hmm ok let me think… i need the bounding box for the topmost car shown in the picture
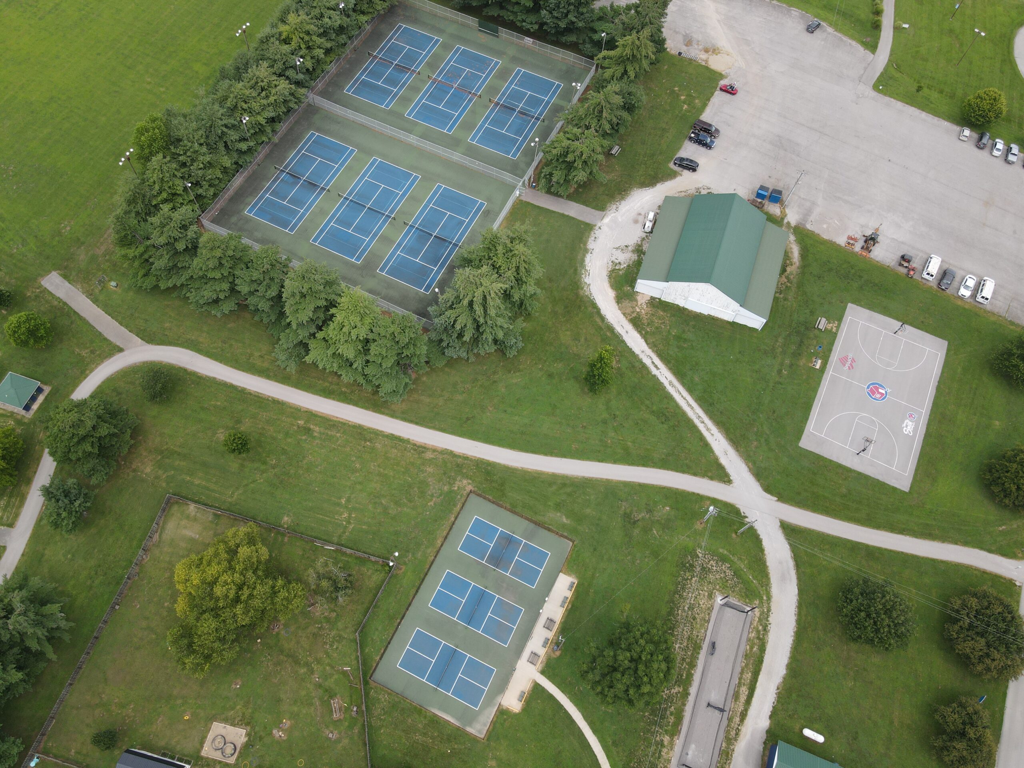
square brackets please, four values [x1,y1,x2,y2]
[807,20,821,34]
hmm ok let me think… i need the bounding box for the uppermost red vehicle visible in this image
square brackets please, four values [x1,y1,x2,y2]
[719,82,739,95]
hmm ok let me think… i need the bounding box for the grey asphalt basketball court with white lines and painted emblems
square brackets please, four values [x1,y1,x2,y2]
[799,303,948,491]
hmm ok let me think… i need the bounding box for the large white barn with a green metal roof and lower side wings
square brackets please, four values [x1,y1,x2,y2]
[634,193,789,331]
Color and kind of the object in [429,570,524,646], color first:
blue sports court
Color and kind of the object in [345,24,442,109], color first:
blue tennis court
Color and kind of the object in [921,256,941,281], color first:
white vehicle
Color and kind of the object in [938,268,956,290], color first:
gray car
